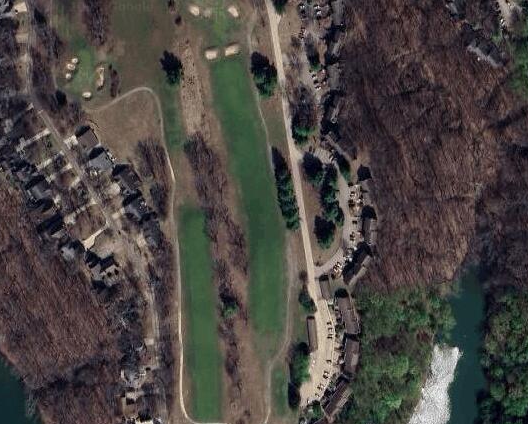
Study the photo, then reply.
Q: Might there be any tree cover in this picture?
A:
Yes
